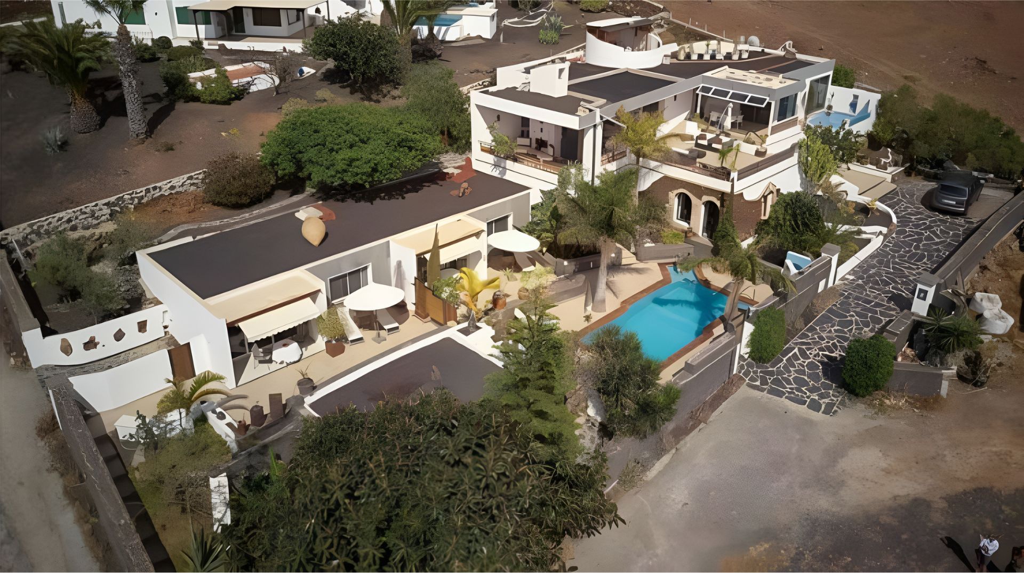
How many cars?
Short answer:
1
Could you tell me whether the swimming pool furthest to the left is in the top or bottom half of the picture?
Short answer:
top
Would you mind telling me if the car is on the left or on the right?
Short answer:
right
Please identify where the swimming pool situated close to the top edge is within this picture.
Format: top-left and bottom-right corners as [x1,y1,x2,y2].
[411,0,499,40]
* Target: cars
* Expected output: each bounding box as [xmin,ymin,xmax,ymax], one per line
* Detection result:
[932,166,987,209]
